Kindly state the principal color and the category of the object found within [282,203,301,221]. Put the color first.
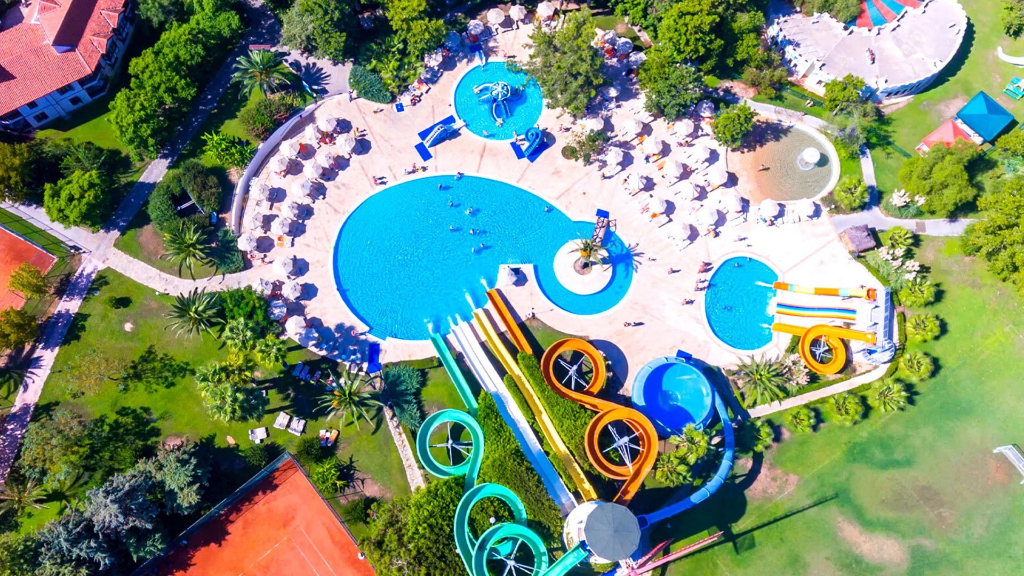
white umbrella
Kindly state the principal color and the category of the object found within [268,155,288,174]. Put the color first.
white umbrella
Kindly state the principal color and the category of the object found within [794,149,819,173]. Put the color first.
white fountain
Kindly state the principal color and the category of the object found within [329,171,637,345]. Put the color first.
blue swimming pool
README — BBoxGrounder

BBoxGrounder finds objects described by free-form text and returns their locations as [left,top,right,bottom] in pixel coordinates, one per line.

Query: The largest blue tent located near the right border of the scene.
[951,91,1012,149]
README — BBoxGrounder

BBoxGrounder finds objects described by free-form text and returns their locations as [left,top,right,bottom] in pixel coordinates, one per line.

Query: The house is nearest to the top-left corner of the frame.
[0,0,142,135]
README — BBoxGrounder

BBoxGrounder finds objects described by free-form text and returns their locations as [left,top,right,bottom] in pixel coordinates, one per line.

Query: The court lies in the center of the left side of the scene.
[0,224,56,314]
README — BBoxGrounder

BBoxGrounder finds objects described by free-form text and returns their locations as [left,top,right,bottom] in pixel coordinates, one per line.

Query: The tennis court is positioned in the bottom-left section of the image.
[137,460,374,576]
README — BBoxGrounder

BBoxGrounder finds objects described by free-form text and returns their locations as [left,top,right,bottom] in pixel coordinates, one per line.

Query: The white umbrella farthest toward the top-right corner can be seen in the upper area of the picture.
[795,199,818,222]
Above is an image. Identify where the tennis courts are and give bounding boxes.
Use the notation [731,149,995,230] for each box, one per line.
[0,224,56,314]
[137,460,374,576]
